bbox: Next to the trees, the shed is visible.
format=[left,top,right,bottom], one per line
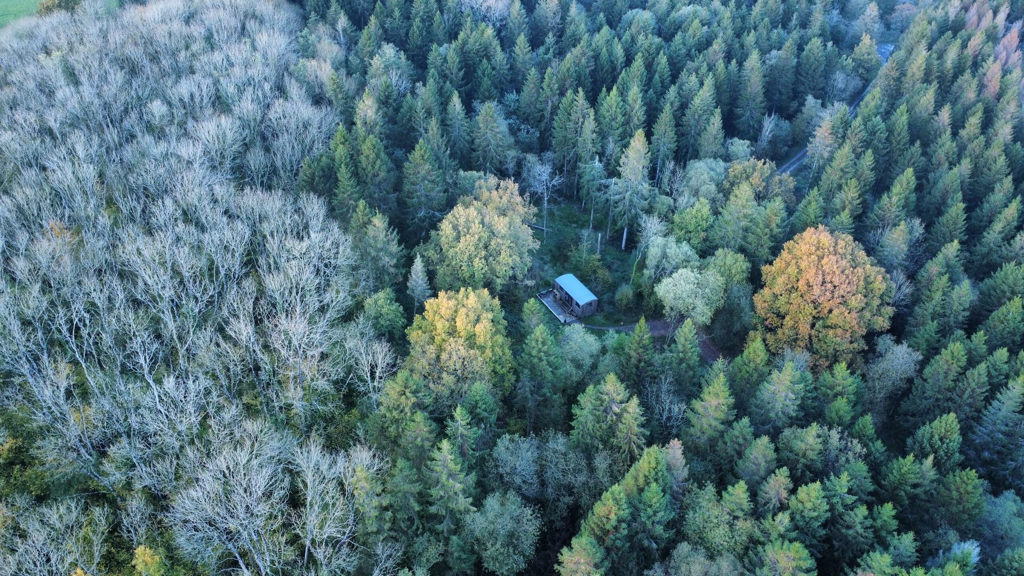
[554,272,598,318]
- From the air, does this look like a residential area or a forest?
forest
